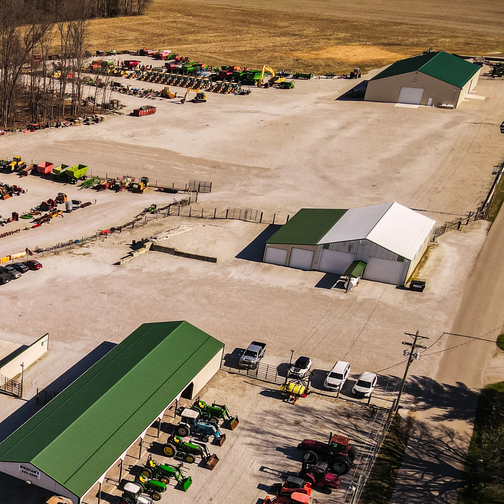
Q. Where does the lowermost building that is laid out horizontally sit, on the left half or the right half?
right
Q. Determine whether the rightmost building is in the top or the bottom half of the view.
top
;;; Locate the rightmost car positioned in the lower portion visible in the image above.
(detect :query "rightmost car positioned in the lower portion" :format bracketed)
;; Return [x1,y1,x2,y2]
[352,368,380,394]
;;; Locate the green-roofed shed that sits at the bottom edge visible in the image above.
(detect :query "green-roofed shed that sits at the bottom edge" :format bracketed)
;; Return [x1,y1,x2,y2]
[0,318,226,504]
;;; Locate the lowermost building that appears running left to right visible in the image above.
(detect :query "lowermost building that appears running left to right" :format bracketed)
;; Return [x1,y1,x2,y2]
[263,201,436,286]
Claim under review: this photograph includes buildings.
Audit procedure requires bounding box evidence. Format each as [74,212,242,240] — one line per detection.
[263,201,436,286]
[0,318,226,504]
[364,51,481,108]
